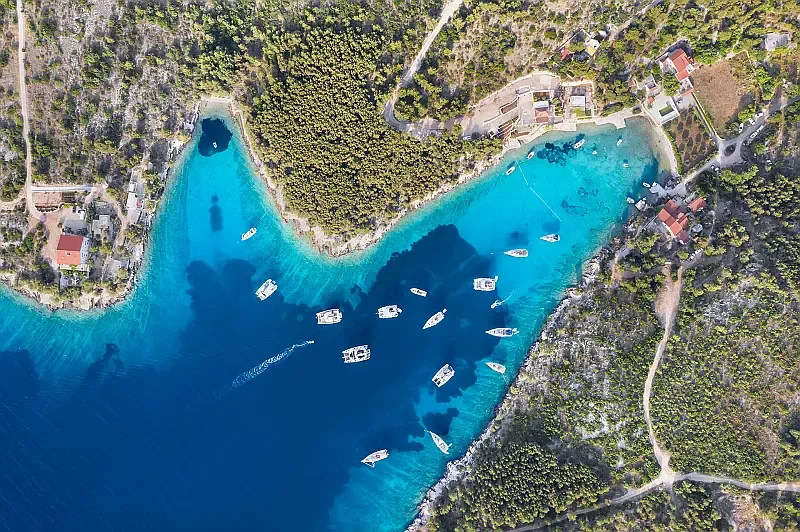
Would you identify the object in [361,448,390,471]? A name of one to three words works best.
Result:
boat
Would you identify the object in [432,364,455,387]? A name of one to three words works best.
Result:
boat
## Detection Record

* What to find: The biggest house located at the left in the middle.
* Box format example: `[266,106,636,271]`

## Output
[54,235,89,264]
